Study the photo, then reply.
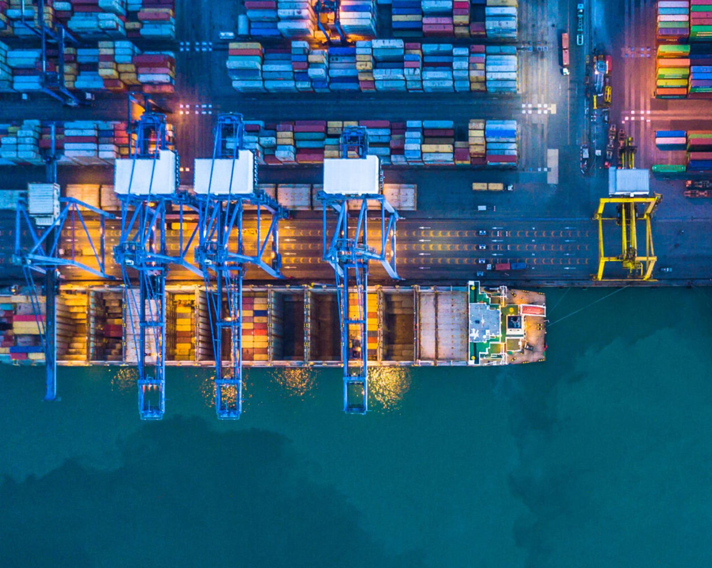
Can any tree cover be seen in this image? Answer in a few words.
No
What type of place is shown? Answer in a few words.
port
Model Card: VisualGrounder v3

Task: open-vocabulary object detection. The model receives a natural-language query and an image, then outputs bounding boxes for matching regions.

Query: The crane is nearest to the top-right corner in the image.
[588,134,657,279]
